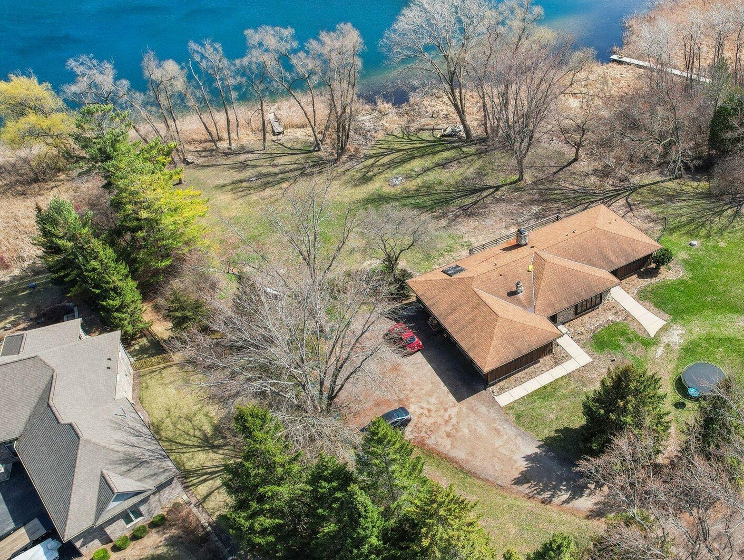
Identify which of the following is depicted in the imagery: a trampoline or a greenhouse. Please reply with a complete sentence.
Of the two, only a trampoline appears.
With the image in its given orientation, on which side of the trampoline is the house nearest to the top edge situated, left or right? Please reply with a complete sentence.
You can see the house nearest to the top edge positioned to the left of the trampoline.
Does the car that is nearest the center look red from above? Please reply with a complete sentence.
Yes, the car that is nearest the center appears red.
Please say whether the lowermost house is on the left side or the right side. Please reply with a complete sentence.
It is on the left.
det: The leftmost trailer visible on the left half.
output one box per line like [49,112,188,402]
[0,511,55,560]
